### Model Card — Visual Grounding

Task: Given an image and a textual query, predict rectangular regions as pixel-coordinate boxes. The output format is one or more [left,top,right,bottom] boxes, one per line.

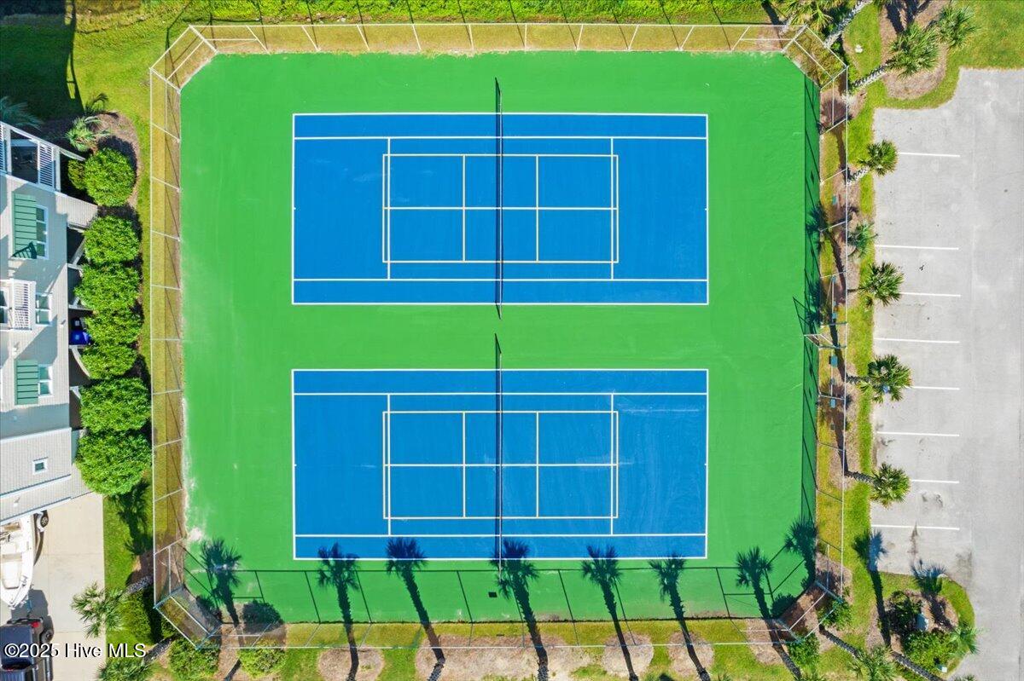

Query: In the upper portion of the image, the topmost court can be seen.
[292,112,709,305]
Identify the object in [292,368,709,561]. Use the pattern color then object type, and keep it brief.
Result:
blue tennis court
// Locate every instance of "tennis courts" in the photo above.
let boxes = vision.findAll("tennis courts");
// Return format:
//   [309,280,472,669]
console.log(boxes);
[292,368,709,561]
[292,112,709,305]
